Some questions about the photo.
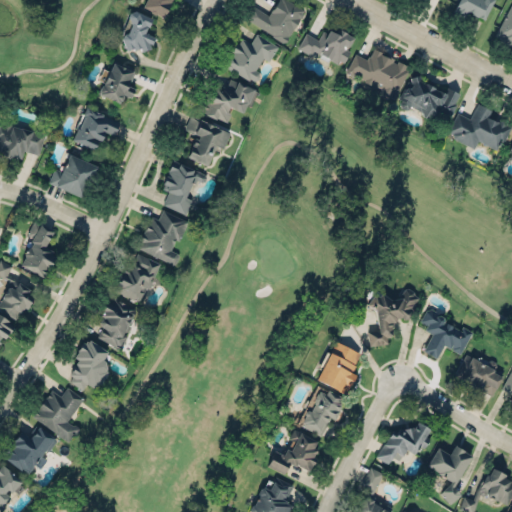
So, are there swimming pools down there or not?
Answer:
Yes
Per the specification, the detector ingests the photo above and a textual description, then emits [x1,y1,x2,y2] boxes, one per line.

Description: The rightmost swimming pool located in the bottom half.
[420,293,450,323]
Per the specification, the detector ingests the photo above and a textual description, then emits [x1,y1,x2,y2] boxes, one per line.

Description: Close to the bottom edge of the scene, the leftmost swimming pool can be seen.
[8,489,30,512]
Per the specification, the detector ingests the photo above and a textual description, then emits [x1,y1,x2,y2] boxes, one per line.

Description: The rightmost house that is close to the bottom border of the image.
[480,468,512,504]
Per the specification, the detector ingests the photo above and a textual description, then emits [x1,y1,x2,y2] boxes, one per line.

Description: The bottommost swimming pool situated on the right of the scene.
[381,482,402,504]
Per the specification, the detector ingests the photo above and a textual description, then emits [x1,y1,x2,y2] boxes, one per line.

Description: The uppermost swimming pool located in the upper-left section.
[90,62,106,84]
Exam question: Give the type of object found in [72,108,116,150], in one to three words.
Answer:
house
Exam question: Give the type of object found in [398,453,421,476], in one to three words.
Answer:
swimming pool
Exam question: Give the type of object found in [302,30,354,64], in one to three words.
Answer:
house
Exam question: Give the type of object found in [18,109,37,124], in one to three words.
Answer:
swimming pool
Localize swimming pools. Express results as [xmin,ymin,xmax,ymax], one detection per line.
[110,358,128,378]
[193,177,214,202]
[420,293,450,323]
[8,232,22,258]
[148,286,166,306]
[8,489,30,512]
[258,62,281,85]
[468,147,492,166]
[400,112,424,128]
[36,453,70,486]
[276,428,288,446]
[51,142,66,165]
[381,482,402,504]
[63,106,81,138]
[90,62,106,84]
[398,453,421,476]
[18,109,37,124]
[304,58,332,76]
[290,382,312,412]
